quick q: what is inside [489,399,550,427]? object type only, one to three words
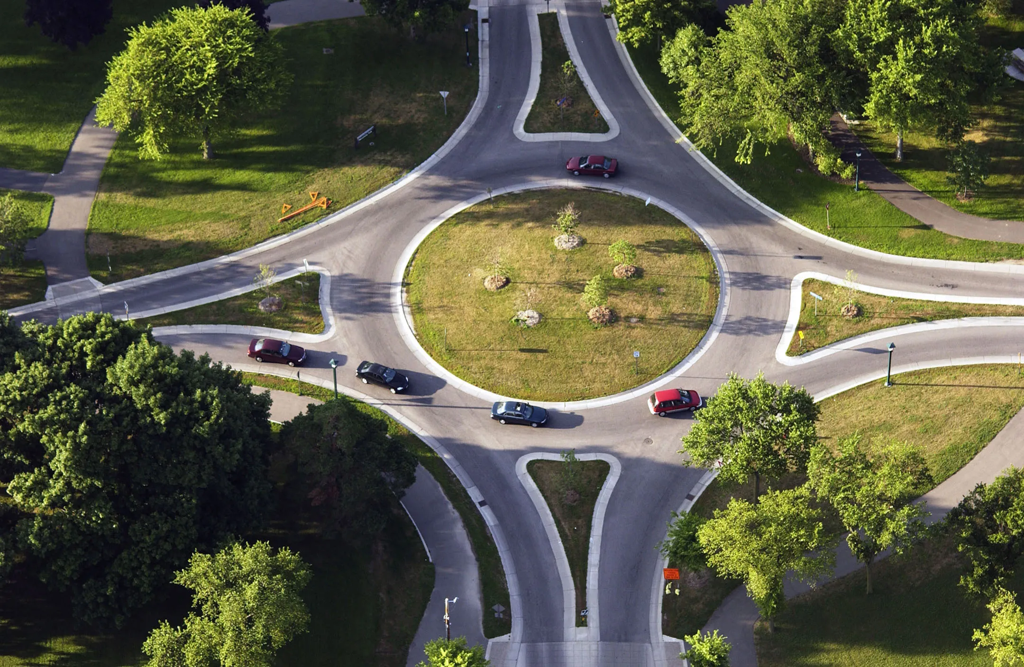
car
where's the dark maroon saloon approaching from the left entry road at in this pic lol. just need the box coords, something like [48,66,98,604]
[246,338,308,367]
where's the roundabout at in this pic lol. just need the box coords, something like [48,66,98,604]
[338,146,784,450]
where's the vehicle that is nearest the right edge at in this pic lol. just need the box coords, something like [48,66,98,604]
[647,387,703,416]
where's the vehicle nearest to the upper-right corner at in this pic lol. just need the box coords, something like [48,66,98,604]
[566,153,619,178]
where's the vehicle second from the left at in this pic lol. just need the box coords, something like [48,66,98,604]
[353,360,413,394]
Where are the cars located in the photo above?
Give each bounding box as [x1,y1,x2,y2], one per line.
[246,338,308,367]
[647,387,703,416]
[489,399,550,427]
[566,153,619,178]
[353,360,413,394]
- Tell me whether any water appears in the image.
No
